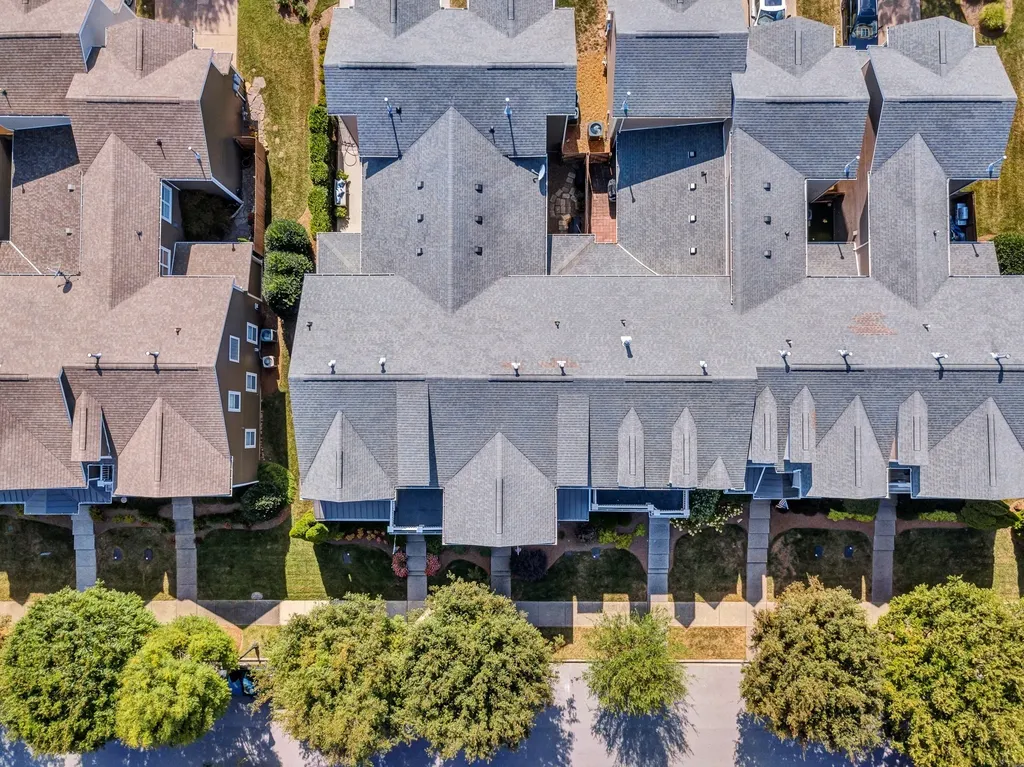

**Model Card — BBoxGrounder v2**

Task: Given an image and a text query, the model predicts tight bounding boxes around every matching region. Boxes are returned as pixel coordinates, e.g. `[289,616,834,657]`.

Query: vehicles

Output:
[845,0,887,55]
[206,662,274,698]
[756,0,789,24]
